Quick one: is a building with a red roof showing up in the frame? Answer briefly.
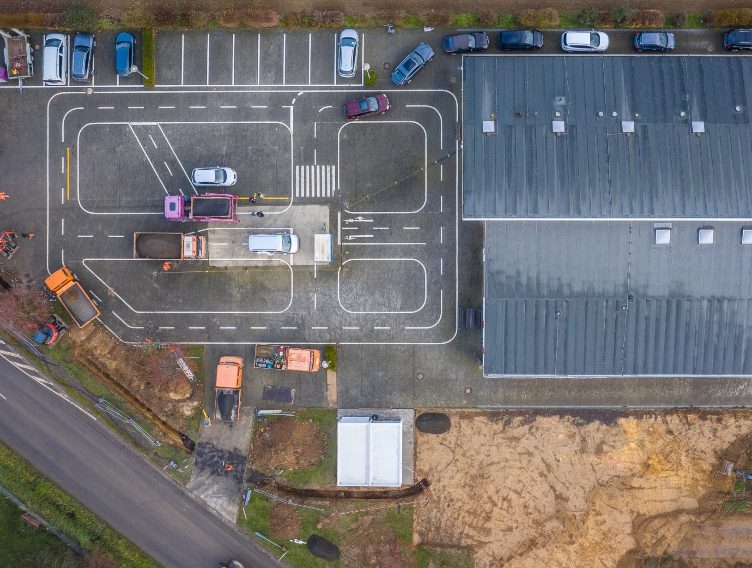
No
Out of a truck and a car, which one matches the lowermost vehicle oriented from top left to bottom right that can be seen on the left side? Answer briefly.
truck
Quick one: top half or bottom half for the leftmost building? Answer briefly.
bottom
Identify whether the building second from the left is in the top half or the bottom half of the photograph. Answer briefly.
bottom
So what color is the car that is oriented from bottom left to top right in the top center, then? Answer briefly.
blue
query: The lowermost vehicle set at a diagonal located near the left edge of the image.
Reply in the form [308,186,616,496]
[37,262,102,331]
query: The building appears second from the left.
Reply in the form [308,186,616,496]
[370,416,403,486]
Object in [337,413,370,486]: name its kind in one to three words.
building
